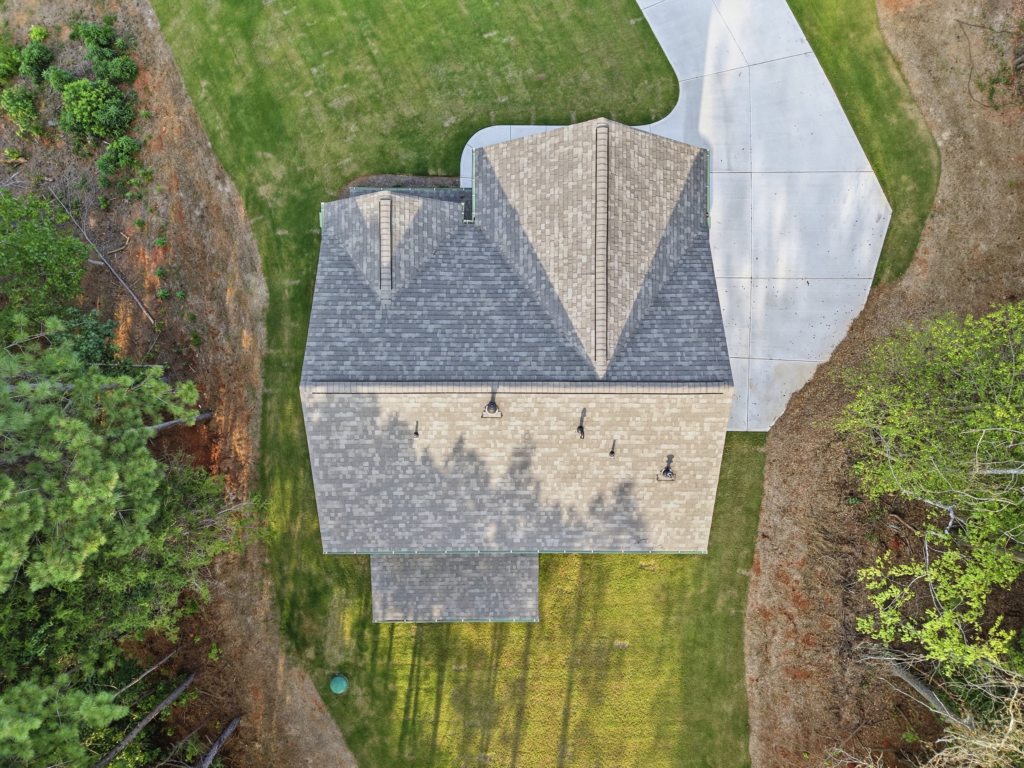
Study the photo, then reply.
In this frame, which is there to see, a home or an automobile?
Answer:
home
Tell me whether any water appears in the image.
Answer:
No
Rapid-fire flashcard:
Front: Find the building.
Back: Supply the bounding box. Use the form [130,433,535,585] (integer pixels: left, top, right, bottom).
[298,119,734,625]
